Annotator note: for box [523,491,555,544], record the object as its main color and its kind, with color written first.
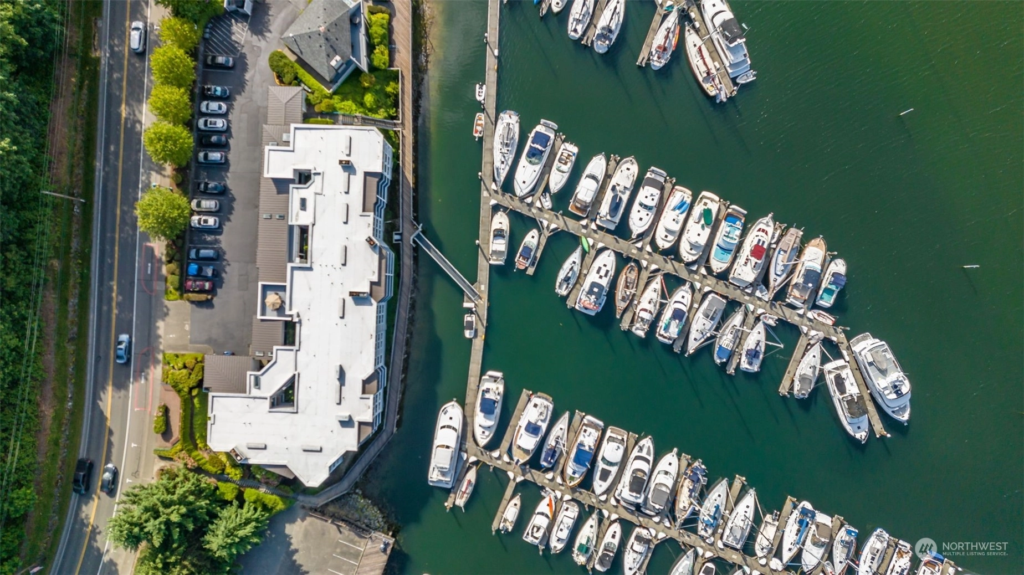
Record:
white boat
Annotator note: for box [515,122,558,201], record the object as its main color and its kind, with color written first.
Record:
white boat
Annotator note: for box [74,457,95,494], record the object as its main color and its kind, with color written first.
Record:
black truck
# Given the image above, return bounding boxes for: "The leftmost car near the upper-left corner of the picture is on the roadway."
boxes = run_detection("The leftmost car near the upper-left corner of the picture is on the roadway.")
[128,21,147,54]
